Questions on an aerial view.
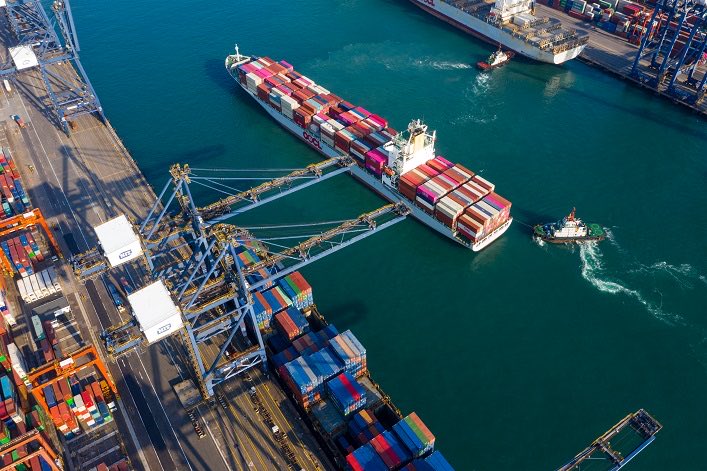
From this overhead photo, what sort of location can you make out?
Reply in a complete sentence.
This looks like a port.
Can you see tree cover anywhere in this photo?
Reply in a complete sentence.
No, the scene doesn't show any tree cover.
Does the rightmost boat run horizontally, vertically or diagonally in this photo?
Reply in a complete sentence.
The rightmost boat is laid out horizontally.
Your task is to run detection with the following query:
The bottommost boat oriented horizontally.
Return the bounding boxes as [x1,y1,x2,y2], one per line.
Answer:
[532,214,609,248]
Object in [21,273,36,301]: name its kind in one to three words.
vehicle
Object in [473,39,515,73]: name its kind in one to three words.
boat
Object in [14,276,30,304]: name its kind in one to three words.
vehicle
